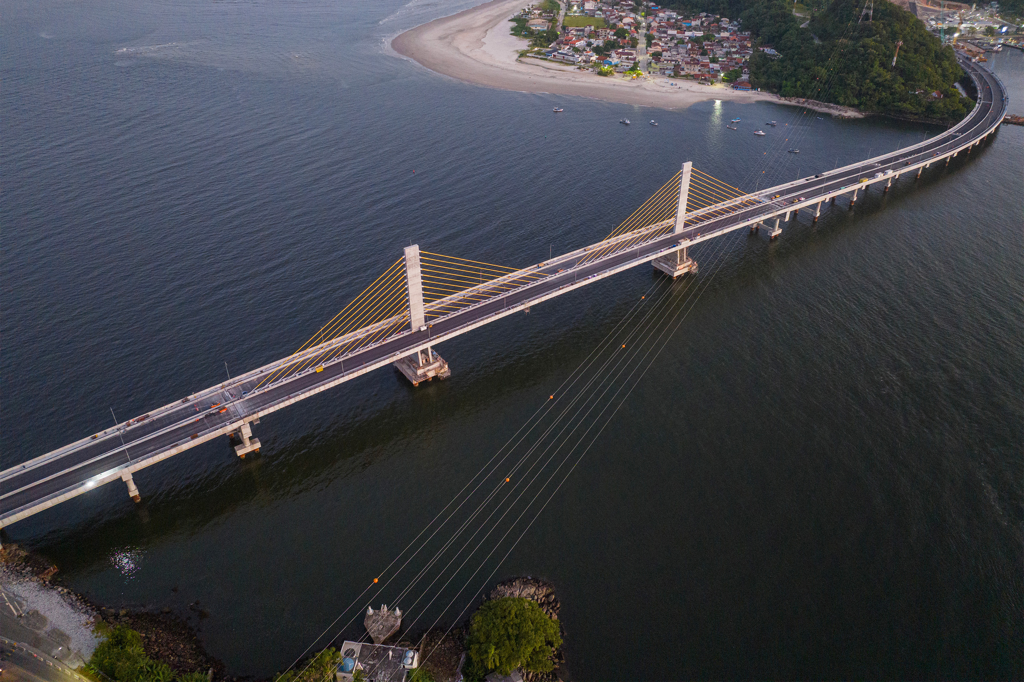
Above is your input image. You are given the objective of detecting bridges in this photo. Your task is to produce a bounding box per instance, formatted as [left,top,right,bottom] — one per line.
[0,66,1008,552]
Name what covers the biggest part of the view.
water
